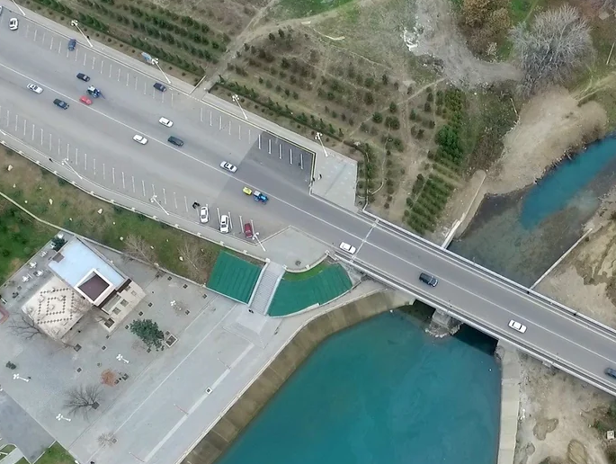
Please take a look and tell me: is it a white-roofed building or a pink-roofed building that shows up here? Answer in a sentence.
The one in the frame is a white-roofed building.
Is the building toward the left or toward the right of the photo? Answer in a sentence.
The building sits on the left side.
